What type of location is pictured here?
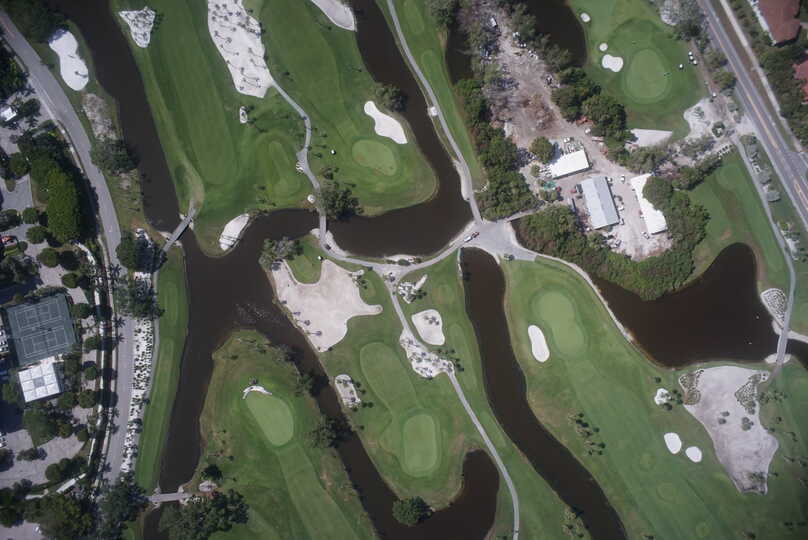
golf course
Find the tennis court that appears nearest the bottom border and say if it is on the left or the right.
left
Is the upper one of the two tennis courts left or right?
left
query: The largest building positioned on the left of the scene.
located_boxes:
[19,359,66,402]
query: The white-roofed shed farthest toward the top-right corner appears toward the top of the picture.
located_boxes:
[628,174,668,234]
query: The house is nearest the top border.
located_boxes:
[751,0,801,47]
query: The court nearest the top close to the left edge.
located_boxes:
[6,294,70,336]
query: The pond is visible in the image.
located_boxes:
[513,231,808,370]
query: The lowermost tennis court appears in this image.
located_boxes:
[13,321,77,363]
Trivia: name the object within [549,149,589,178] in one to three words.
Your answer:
building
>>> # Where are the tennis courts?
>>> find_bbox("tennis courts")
[13,321,77,363]
[6,294,70,336]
